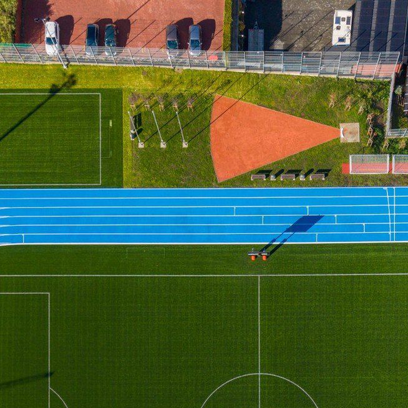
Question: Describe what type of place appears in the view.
sports ground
